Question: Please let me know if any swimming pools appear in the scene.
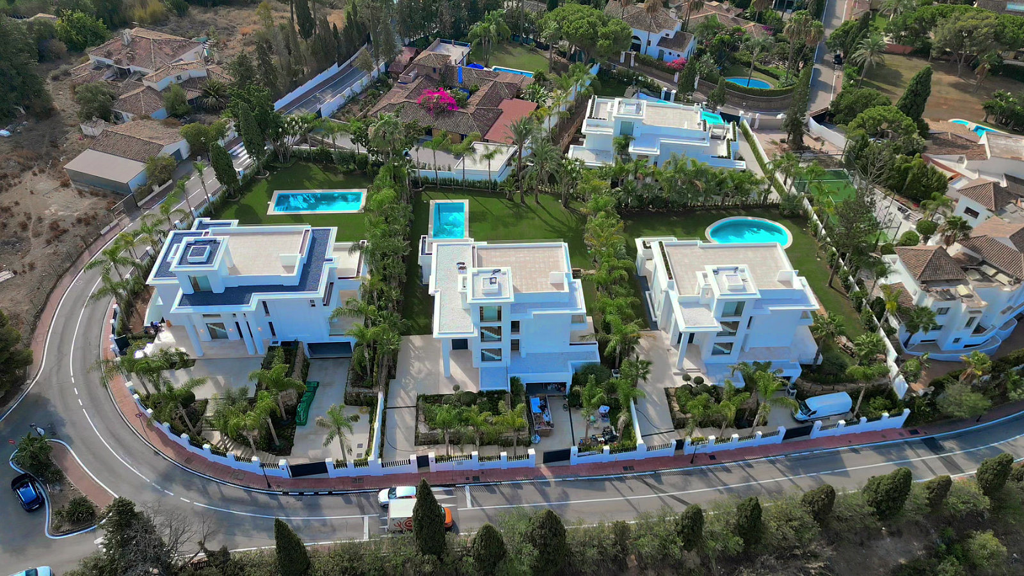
Yes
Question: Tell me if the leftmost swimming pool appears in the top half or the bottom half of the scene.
top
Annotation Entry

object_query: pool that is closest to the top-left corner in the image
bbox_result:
[267,187,367,214]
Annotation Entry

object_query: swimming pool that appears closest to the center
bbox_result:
[428,198,469,237]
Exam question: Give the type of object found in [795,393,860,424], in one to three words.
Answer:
van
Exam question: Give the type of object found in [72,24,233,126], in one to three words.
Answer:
house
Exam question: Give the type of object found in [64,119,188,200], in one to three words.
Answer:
shed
